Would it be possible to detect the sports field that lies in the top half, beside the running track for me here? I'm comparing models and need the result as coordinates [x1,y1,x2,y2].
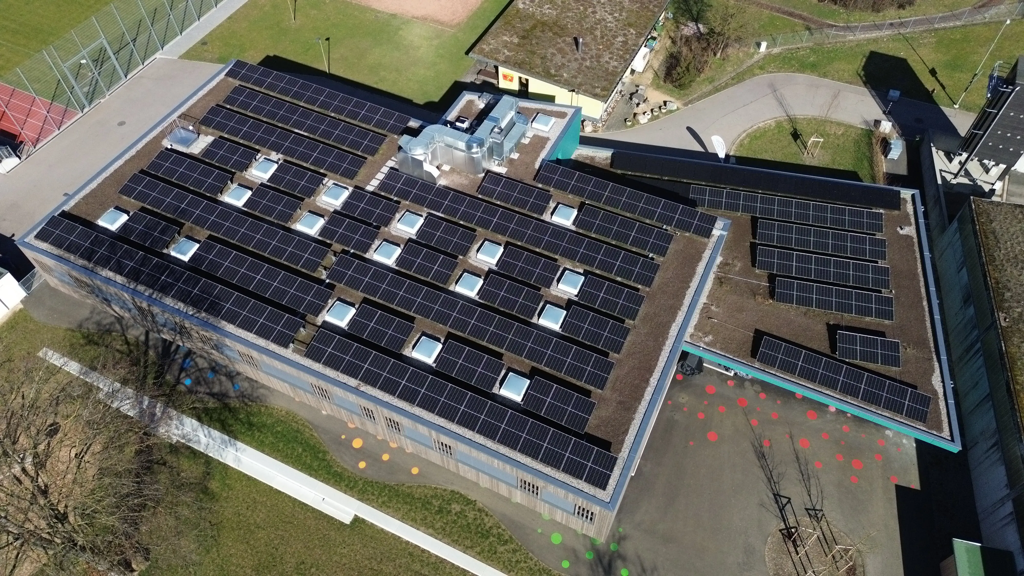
[0,0,223,112]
